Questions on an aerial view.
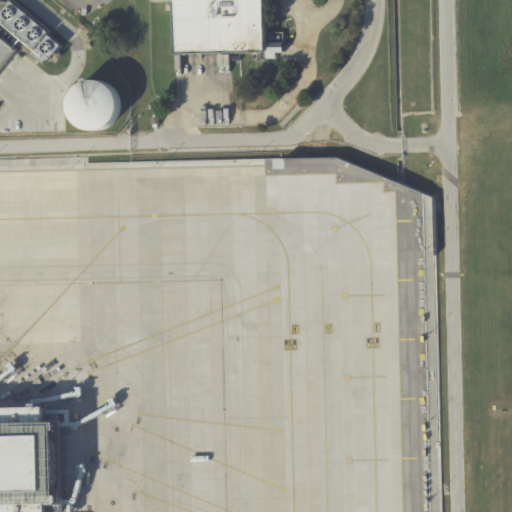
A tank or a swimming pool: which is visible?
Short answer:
tank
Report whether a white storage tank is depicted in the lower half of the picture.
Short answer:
No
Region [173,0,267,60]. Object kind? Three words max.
building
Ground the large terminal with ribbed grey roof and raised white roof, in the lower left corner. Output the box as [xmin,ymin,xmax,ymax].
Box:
[0,404,65,512]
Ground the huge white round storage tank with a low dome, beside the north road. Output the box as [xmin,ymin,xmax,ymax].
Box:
[64,78,121,132]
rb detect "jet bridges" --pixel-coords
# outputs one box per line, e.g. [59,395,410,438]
[46,396,116,428]
[64,502,74,512]
[52,459,86,506]
[28,387,82,407]
[0,361,15,381]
